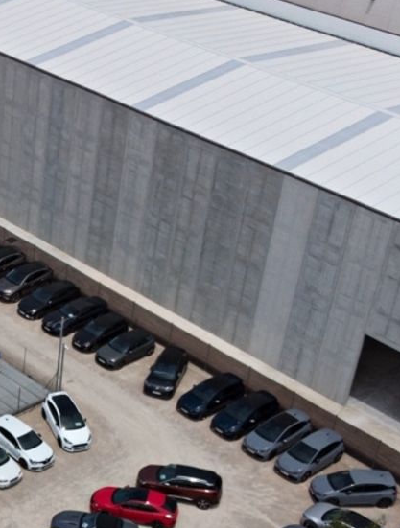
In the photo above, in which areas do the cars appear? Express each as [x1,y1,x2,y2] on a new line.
[174,366,240,420]
[272,427,339,480]
[90,484,181,528]
[143,340,189,396]
[0,263,47,302]
[242,409,305,461]
[48,509,139,528]
[40,395,87,450]
[37,297,99,338]
[71,309,127,351]
[0,443,24,488]
[0,414,53,469]
[18,279,74,321]
[95,326,153,369]
[137,460,225,508]
[208,384,275,439]
[310,467,398,506]
[301,503,382,528]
